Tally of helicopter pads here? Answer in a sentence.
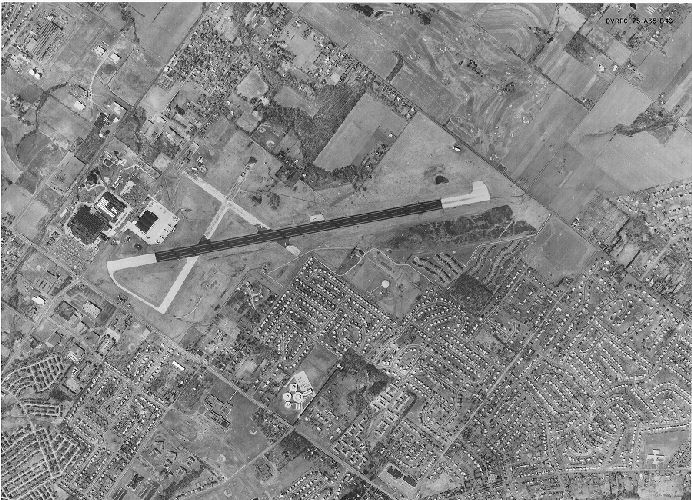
Not a single helicopter pad can be seen.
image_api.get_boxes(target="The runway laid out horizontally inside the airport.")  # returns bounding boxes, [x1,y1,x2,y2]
[155,199,442,263]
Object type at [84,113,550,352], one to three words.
airport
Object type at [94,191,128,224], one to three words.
building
